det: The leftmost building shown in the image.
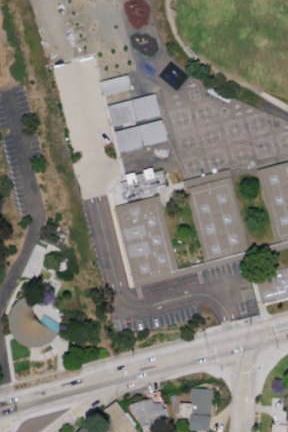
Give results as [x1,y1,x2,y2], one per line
[8,300,60,348]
